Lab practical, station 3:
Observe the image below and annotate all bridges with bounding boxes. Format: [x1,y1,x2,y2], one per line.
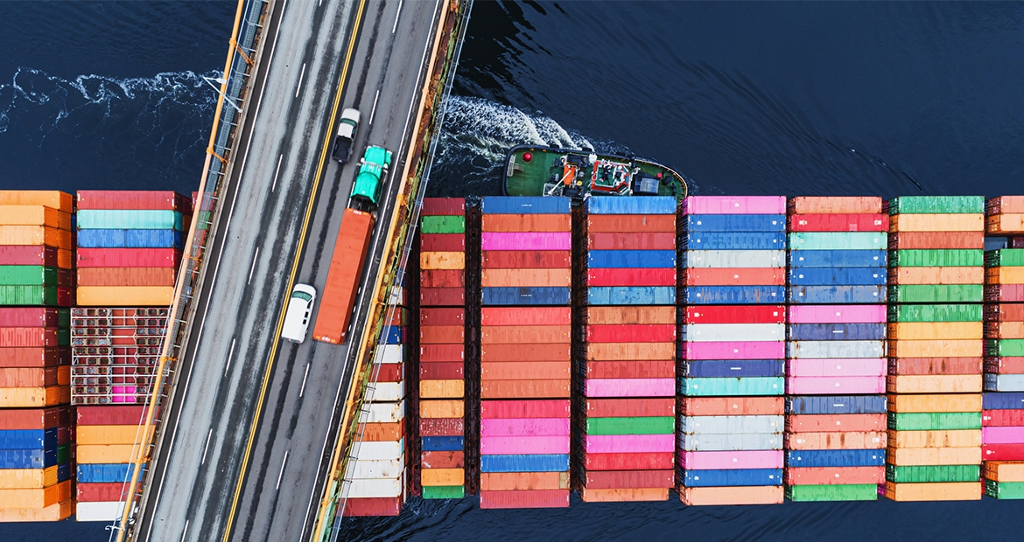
[111,0,473,542]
